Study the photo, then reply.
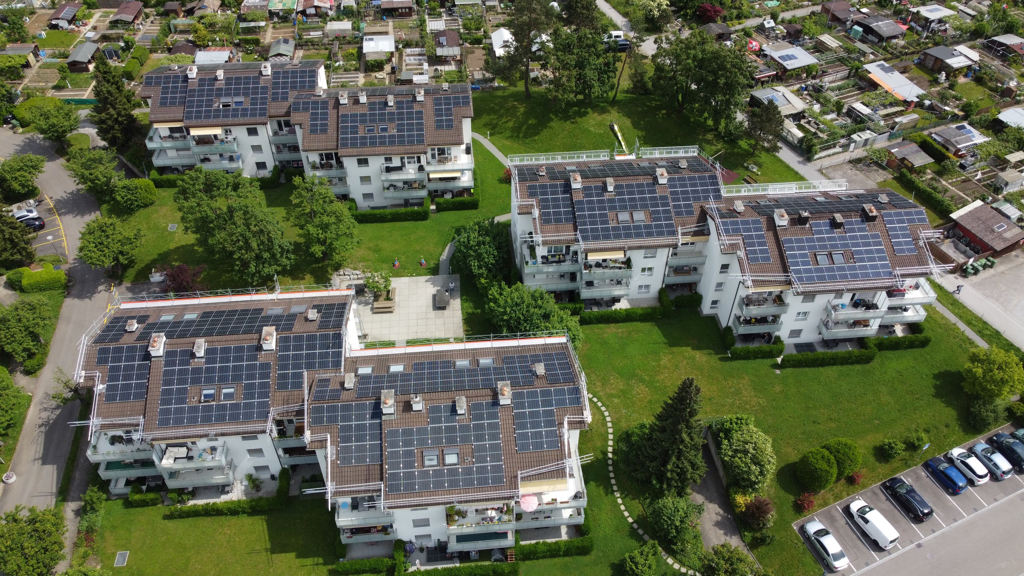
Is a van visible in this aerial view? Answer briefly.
Yes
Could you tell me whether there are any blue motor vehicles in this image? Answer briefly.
Yes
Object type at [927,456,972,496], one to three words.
car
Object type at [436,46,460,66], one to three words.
shed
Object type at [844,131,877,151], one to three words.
shed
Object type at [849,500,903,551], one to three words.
van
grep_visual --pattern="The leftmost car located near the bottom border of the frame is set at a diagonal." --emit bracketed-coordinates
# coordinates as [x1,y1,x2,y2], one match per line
[804,521,851,573]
